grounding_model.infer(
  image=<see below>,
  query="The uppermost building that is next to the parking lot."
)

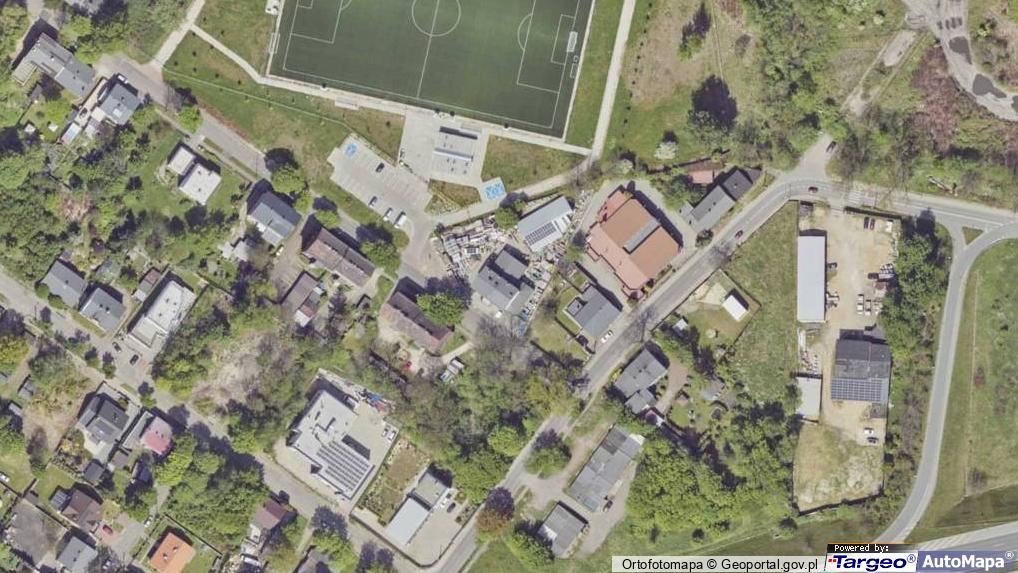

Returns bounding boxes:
[431,127,477,175]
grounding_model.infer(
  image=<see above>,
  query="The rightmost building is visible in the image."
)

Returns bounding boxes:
[832,327,893,419]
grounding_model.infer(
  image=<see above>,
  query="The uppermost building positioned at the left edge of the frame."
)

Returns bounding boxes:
[11,32,94,90]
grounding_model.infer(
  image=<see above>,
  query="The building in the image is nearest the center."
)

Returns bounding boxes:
[471,250,535,316]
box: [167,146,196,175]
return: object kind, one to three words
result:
shed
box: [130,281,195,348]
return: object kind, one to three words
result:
building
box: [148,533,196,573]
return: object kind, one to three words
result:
house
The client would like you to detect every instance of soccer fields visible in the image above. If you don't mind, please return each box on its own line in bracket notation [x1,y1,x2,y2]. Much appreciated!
[266,0,594,139]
